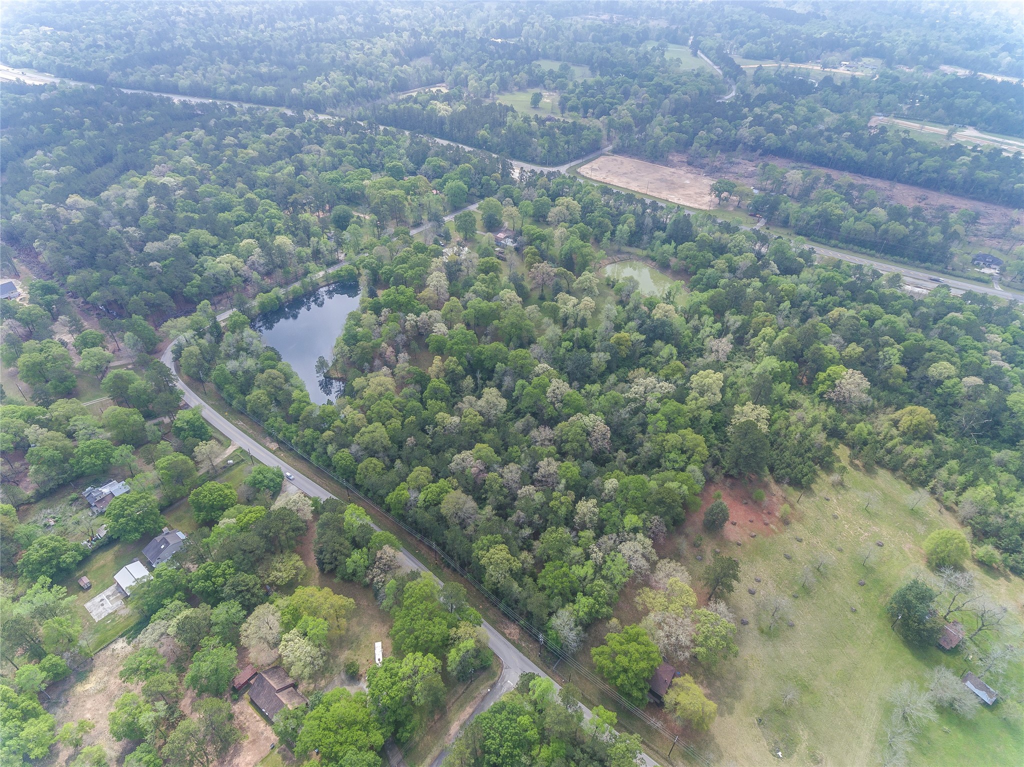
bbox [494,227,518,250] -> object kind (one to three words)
house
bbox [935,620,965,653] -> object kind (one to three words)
barn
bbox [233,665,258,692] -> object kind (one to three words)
shed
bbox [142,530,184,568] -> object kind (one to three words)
house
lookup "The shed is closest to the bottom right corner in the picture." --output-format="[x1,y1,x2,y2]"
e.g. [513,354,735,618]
[962,671,998,707]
